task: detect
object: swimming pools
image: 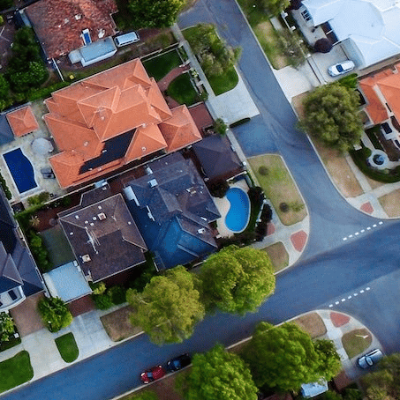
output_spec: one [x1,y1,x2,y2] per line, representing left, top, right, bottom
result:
[223,186,256,234]
[1,147,43,196]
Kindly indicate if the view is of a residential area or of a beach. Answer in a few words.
residential area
